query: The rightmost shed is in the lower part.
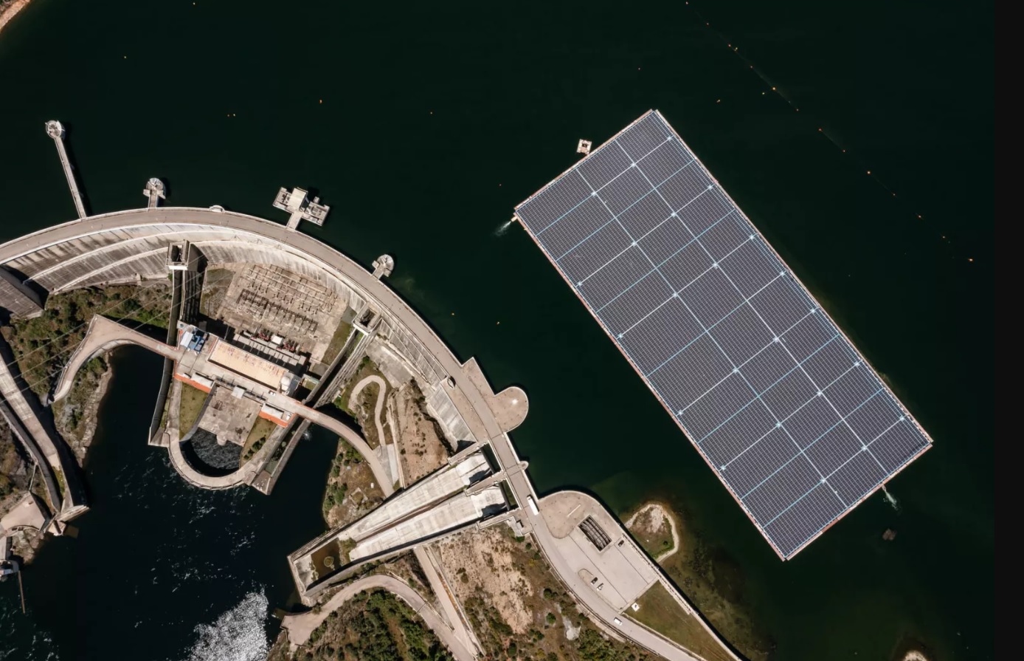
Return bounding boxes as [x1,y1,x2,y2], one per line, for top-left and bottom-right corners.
[478,509,531,536]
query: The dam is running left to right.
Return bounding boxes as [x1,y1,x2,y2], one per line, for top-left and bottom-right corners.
[0,202,462,389]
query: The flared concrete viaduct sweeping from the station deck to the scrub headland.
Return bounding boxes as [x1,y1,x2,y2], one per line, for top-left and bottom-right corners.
[52,314,178,402]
